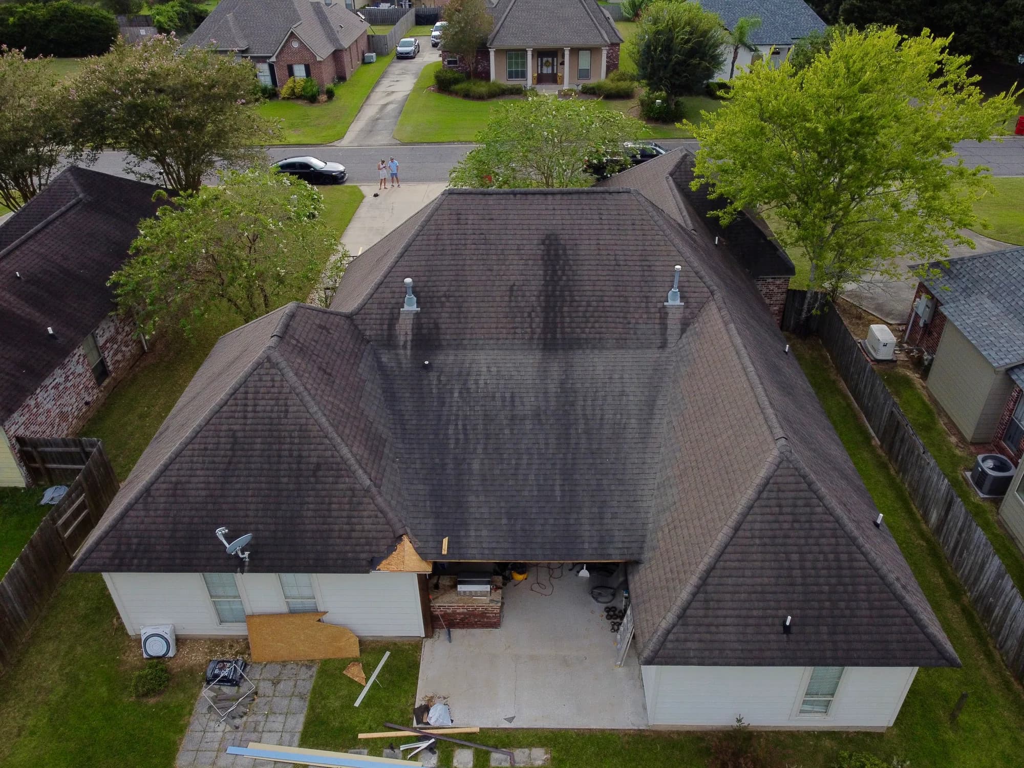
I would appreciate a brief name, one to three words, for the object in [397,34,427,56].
car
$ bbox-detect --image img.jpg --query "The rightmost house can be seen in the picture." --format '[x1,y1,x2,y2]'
[893,261,1024,554]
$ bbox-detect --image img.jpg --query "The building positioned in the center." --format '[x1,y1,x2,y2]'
[73,147,963,731]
